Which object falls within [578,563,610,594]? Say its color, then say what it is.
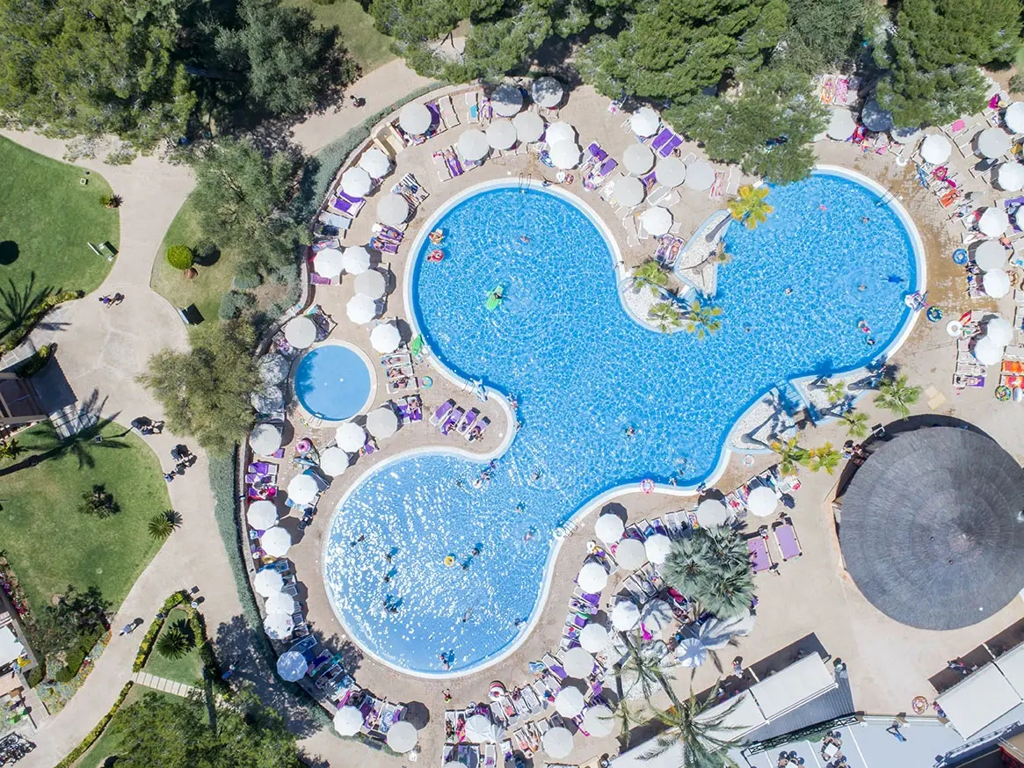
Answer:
white umbrella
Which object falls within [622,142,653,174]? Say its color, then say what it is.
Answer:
white umbrella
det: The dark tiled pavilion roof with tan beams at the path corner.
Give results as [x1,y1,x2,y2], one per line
[0,375,63,426]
